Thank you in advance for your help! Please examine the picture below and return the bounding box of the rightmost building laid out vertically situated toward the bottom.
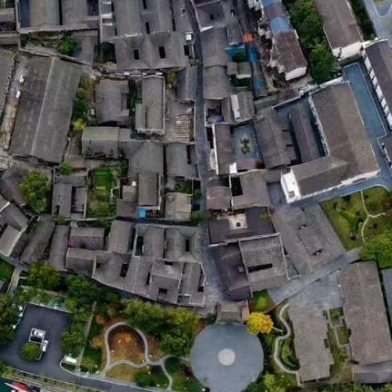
[337,262,392,366]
